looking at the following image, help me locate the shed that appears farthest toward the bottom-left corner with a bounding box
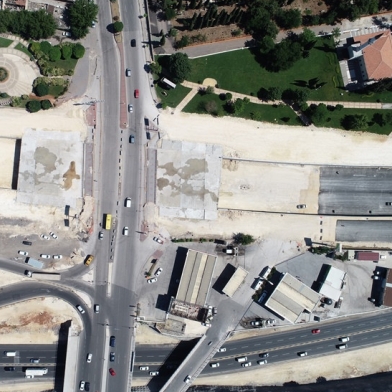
[157,317,187,334]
